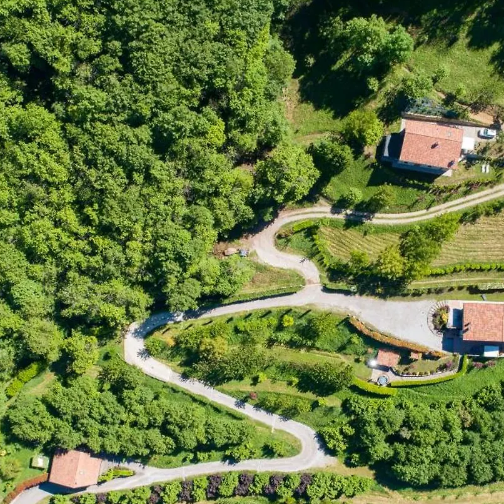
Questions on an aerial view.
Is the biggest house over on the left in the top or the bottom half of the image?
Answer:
bottom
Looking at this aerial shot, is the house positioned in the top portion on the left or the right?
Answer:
right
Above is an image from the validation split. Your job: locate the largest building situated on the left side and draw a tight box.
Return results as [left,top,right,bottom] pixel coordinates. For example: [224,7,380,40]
[48,451,102,489]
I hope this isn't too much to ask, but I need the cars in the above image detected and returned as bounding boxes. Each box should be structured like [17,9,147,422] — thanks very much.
[239,250,248,256]
[481,129,497,137]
